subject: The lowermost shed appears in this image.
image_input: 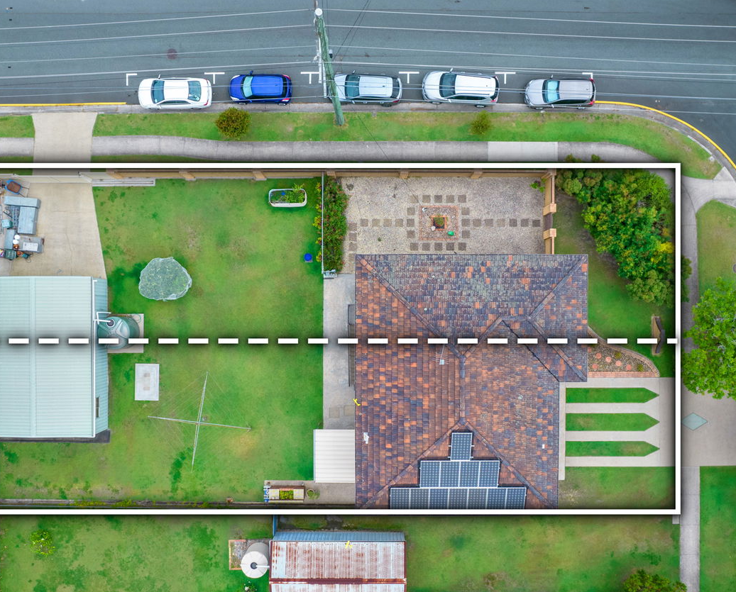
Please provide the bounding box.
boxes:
[268,532,407,592]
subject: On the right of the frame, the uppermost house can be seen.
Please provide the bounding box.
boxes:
[349,253,590,519]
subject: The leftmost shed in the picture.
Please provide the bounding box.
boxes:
[0,274,108,440]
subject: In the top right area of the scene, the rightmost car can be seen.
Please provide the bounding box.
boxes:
[522,72,595,111]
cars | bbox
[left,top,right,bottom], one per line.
[336,70,403,108]
[140,73,214,111]
[421,69,499,109]
[229,71,293,108]
[522,72,595,111]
